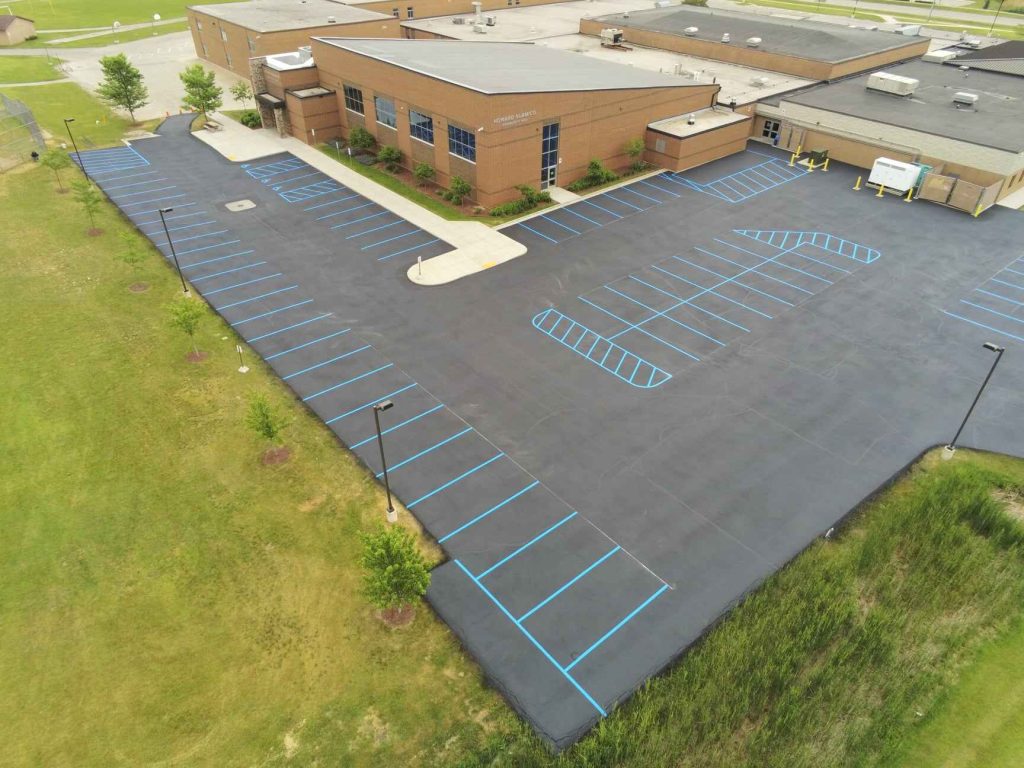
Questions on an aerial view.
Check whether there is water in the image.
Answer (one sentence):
No, the picture contains no water.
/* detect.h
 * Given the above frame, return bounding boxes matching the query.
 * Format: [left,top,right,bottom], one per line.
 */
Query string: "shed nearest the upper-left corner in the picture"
[0,12,36,45]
